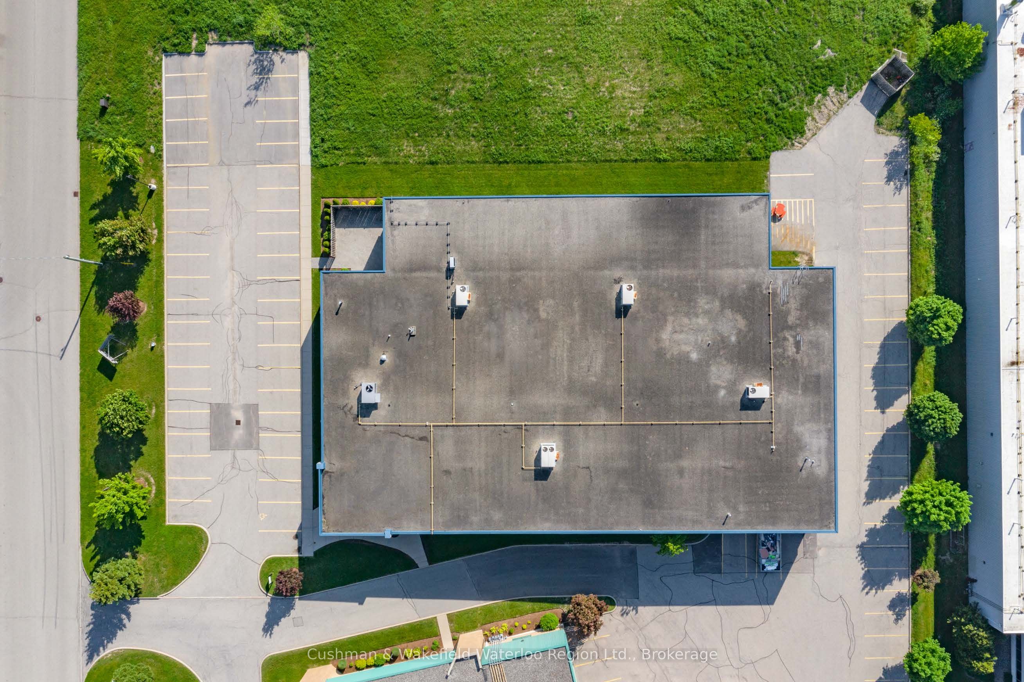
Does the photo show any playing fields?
No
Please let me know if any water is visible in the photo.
No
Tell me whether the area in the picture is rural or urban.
urban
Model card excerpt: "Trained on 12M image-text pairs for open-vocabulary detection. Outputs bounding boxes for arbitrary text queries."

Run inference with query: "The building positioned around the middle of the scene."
[318,193,838,537]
